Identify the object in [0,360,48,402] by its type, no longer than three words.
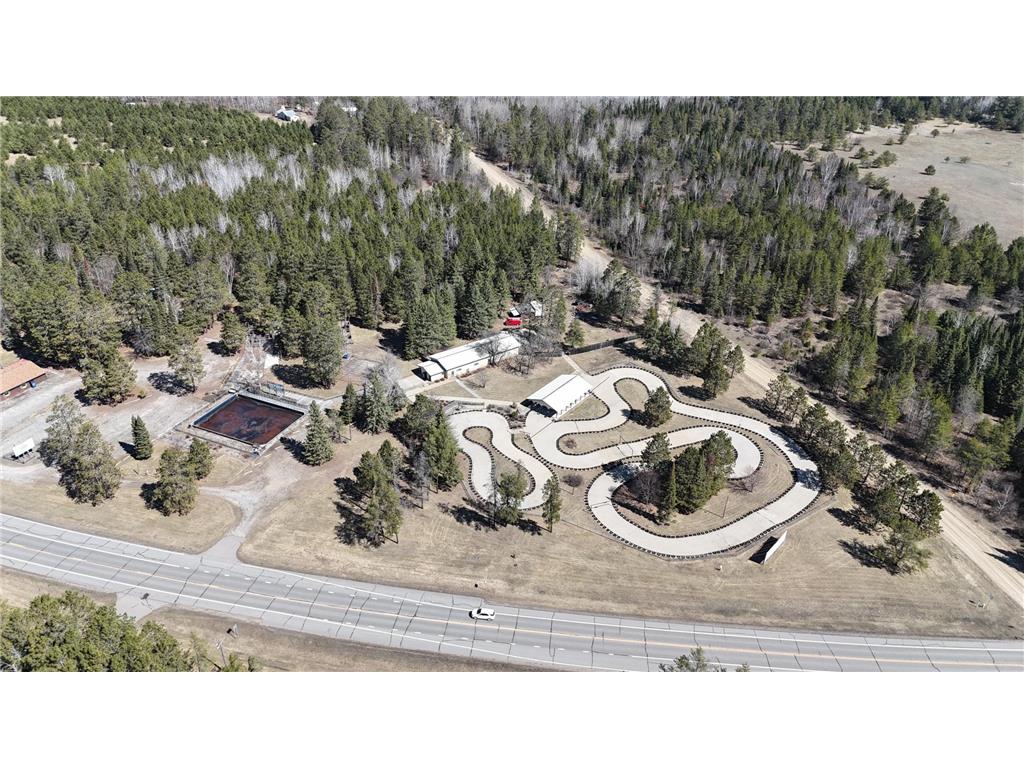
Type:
building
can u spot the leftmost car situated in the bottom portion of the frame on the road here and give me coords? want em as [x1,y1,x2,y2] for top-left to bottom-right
[471,608,495,621]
